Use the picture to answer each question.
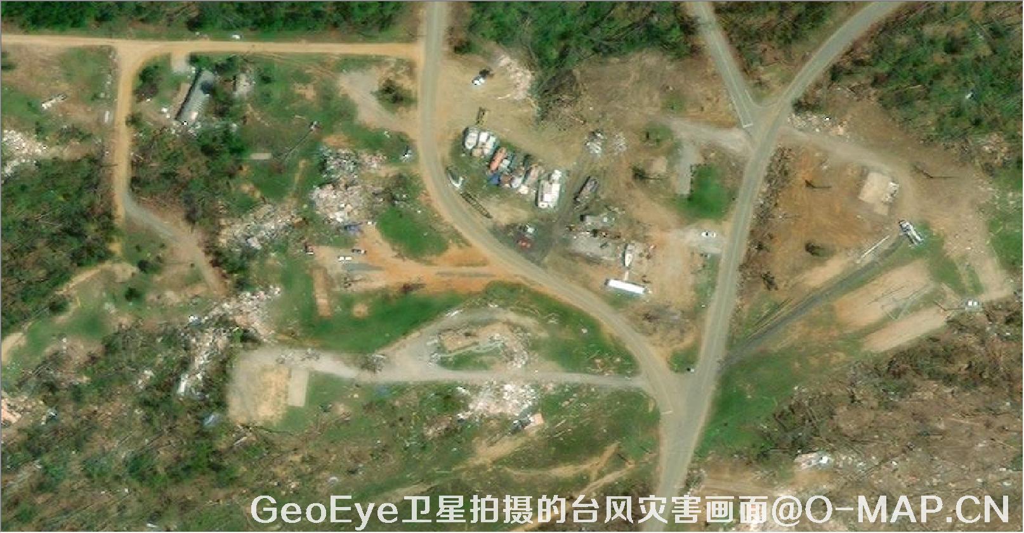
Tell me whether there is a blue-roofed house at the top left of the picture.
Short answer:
No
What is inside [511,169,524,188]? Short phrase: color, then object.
white boat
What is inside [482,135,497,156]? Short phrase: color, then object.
white camper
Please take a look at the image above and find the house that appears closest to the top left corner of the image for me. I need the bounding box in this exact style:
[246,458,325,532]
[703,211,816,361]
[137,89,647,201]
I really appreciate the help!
[179,68,212,125]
